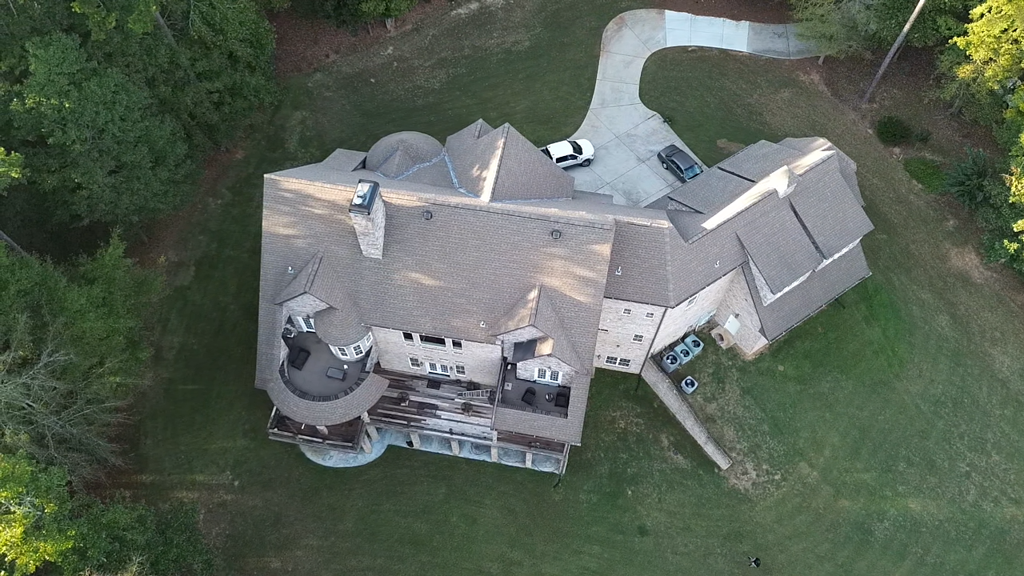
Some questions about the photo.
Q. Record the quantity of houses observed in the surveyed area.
1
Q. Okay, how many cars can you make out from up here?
two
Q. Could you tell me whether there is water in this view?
No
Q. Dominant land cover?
grass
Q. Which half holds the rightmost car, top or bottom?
top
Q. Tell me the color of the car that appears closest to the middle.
white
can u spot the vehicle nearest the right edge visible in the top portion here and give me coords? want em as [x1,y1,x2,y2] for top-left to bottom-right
[661,139,710,181]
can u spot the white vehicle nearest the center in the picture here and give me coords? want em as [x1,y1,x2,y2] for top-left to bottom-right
[536,134,598,169]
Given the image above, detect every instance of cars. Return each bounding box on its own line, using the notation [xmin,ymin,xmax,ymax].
[661,139,710,181]
[536,134,598,169]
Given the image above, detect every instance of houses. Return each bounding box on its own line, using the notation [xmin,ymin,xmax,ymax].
[256,118,876,454]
